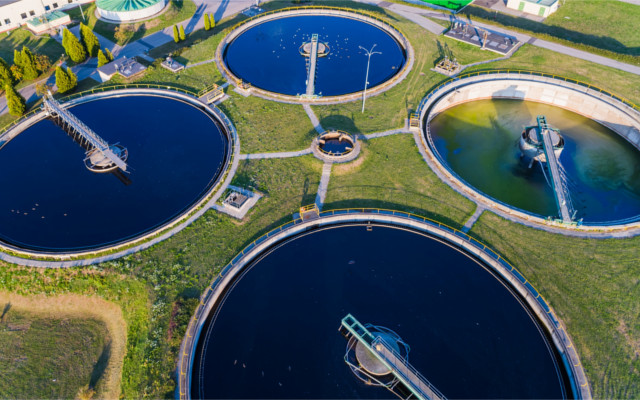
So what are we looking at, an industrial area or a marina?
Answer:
industrial area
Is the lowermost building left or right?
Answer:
left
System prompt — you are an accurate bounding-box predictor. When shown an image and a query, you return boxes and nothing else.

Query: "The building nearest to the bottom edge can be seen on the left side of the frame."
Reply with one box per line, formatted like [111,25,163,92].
[97,55,141,82]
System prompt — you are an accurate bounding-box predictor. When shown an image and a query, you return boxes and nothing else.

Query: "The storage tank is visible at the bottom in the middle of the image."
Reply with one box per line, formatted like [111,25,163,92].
[181,206,588,400]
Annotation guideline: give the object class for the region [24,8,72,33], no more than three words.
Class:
building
